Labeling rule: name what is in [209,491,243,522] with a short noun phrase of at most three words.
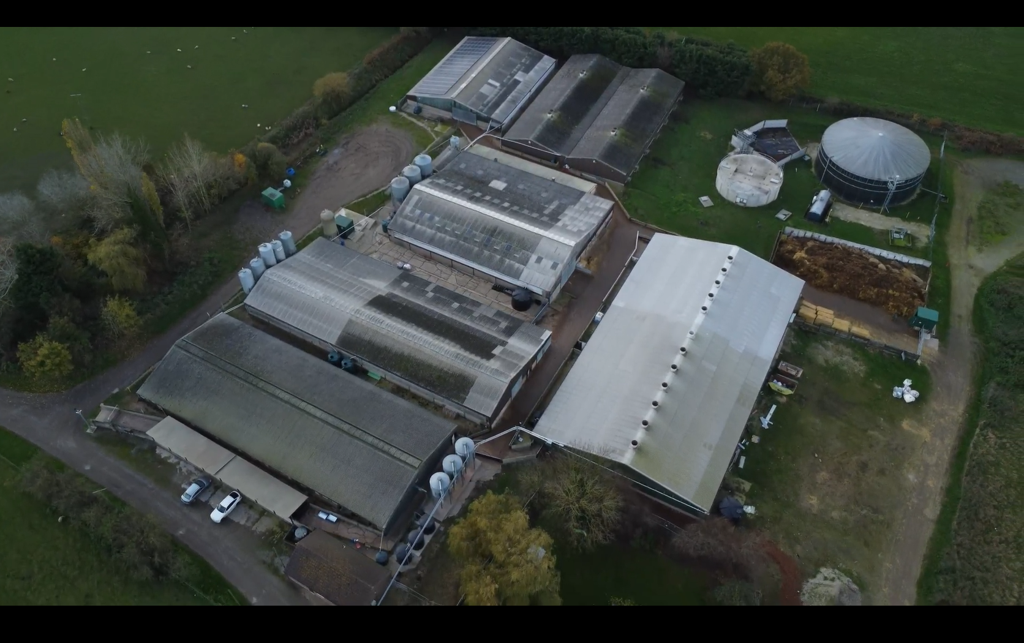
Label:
car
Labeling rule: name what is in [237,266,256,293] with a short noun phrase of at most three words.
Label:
silo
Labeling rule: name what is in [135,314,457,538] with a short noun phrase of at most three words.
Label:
barn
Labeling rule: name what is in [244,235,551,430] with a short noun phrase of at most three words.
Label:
barn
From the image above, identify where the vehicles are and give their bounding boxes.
[178,476,213,504]
[209,491,243,522]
